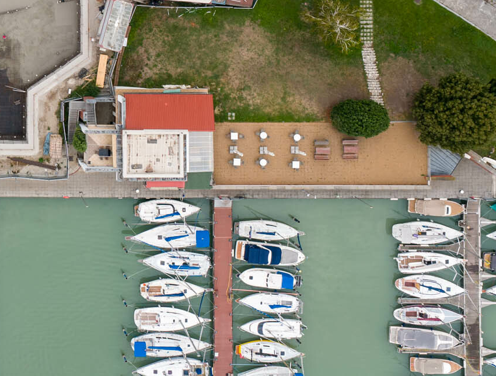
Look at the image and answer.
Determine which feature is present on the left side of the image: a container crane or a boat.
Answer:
boat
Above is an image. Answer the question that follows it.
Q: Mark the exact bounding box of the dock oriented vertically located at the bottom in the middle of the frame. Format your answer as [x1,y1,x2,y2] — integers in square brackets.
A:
[203,194,239,376]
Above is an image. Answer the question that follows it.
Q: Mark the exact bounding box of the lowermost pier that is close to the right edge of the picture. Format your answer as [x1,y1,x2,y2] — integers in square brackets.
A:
[397,194,496,376]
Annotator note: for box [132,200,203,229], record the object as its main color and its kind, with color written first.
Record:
white boat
